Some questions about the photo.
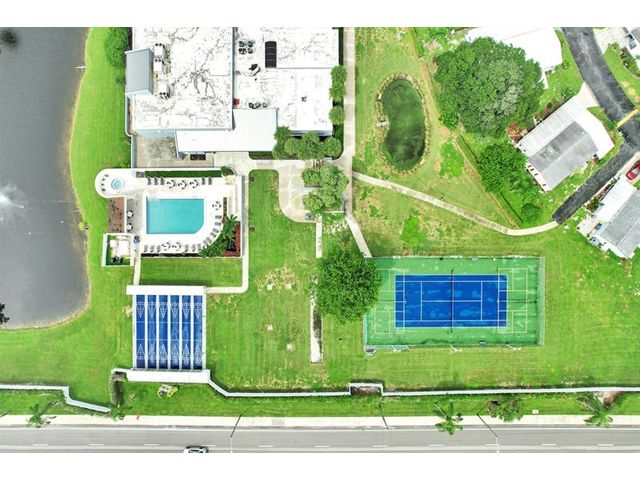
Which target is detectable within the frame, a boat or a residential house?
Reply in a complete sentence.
The one in the frame is a residential house.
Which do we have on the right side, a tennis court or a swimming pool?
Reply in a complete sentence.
Looking on the right side, you will find a tennis court.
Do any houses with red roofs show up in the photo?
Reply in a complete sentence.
No, there is no house with a red roof in the image.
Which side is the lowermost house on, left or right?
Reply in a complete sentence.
The lowermost house appears in the right half of the scene.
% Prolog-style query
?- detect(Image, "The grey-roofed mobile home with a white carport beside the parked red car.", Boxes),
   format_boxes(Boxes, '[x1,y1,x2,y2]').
[589,177,640,261]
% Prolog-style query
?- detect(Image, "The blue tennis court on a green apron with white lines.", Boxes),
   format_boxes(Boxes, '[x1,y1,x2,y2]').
[366,258,538,346]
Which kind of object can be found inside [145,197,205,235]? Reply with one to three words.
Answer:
swimming pool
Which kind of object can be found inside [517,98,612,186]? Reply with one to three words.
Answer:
house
